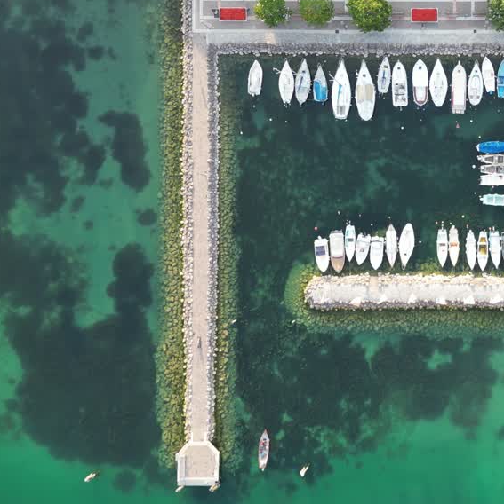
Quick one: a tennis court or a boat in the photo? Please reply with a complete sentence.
It is a boat that can be seen here.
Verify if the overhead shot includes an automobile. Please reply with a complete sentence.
No, I find no automobile anywhere in the image.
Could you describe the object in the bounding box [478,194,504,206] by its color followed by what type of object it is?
white boat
